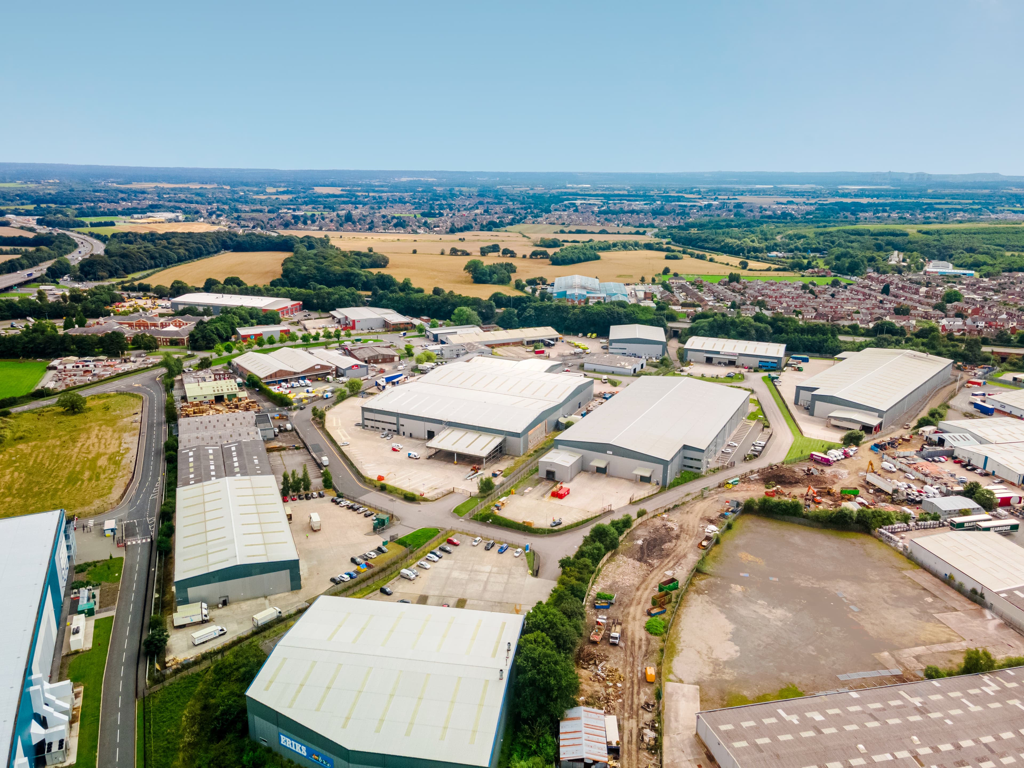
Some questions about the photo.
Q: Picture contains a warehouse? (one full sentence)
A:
Yes, a warehouse can be made out from above.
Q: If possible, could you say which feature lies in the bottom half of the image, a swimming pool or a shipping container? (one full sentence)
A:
What appears in the bottom half of the image is a shipping container.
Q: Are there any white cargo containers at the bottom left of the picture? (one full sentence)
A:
Yes, a white cargo container appears at the bottom left of the picture.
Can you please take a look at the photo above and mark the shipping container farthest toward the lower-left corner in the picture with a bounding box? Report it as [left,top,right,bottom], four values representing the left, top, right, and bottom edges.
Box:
[64,610,89,650]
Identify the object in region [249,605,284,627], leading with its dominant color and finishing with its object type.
white truck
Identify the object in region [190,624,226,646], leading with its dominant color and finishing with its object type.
white vehicle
